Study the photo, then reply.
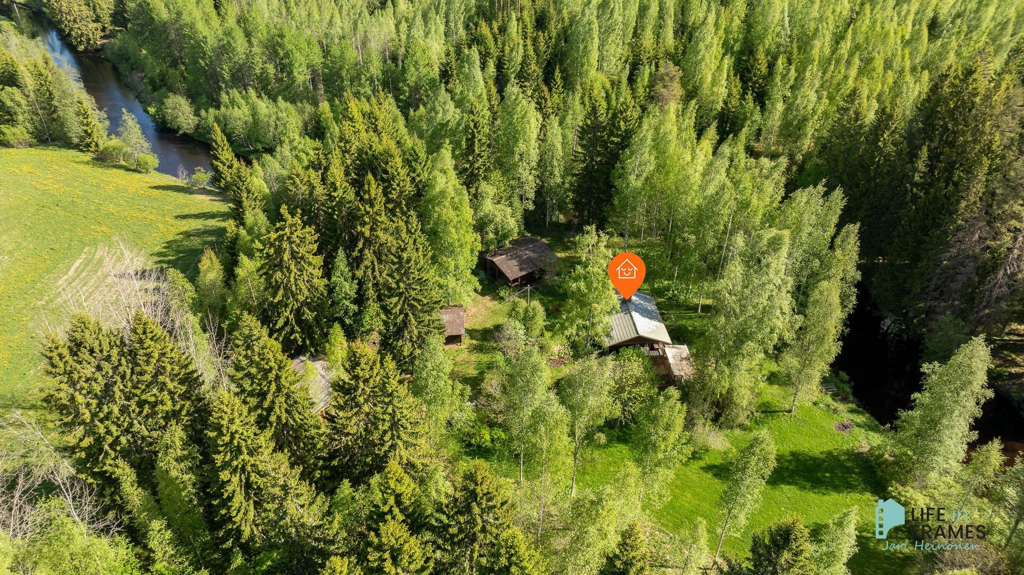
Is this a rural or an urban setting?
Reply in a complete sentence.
The land in this view is best described as rural.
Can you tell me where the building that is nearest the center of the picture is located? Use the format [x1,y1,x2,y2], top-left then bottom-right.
[480,234,557,293]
